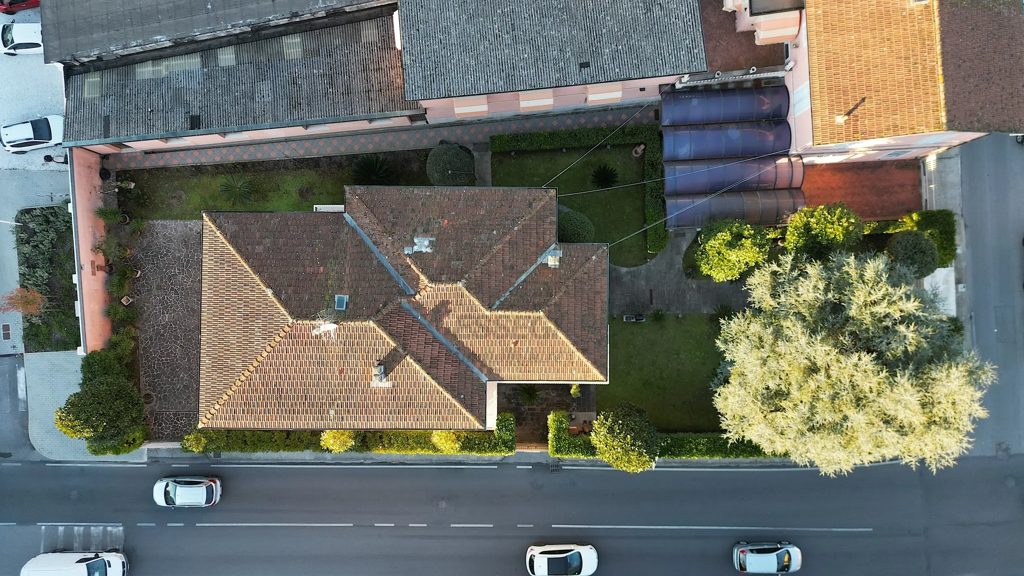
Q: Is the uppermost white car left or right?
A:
left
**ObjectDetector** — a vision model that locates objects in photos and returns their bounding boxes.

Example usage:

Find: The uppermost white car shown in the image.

[0,17,45,58]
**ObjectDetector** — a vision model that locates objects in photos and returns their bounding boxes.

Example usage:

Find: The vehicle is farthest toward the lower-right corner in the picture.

[732,539,799,576]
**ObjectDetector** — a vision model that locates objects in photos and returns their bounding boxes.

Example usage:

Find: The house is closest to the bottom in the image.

[195,184,612,432]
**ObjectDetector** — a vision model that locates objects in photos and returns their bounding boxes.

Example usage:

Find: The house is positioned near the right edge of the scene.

[768,0,1024,164]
